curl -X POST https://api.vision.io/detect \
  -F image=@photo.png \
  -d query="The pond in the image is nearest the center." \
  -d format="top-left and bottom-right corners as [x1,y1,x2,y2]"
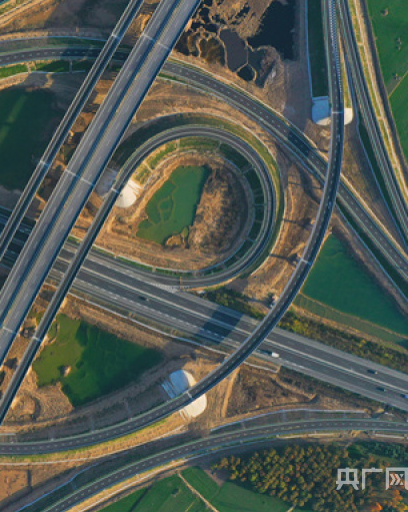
[138,166,208,245]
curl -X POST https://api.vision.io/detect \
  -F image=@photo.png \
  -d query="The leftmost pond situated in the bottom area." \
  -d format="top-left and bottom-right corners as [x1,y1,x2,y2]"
[34,316,162,406]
